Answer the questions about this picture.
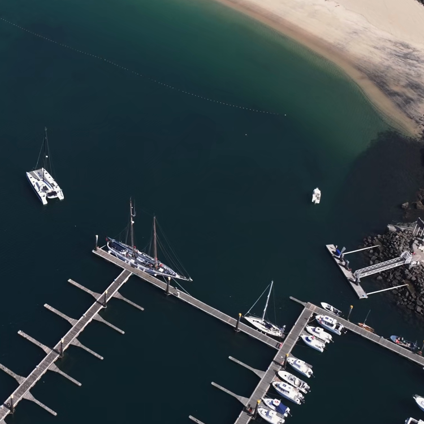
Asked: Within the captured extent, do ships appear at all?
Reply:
Yes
